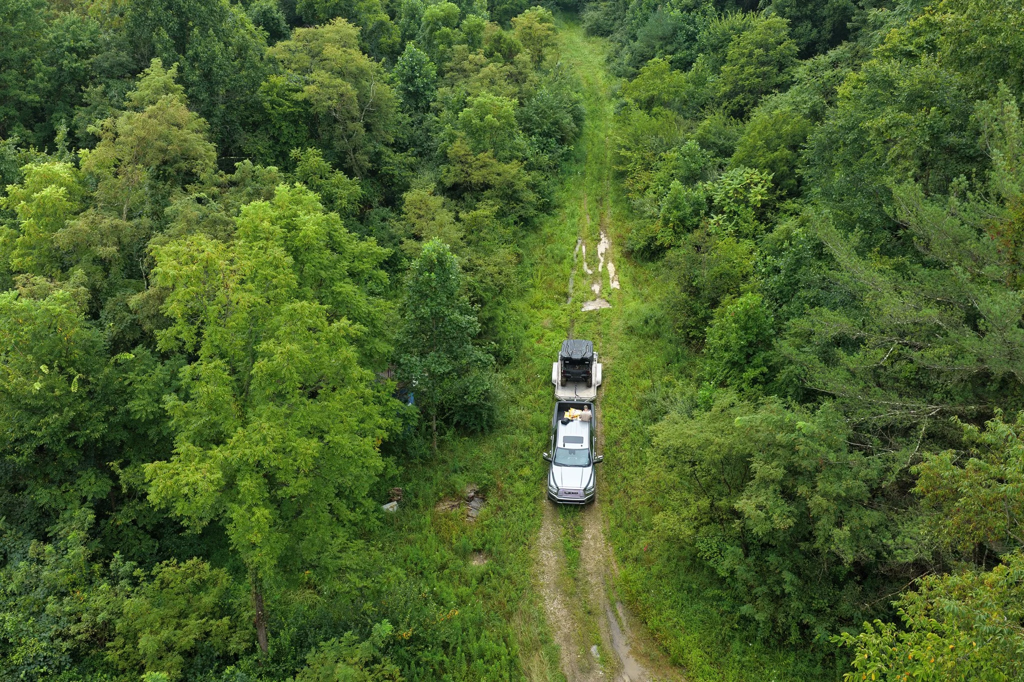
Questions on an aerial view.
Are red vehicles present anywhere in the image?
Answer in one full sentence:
No, no red vehicle is visible in the scene.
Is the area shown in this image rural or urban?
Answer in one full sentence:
This place is rural.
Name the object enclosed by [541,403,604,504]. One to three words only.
truck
